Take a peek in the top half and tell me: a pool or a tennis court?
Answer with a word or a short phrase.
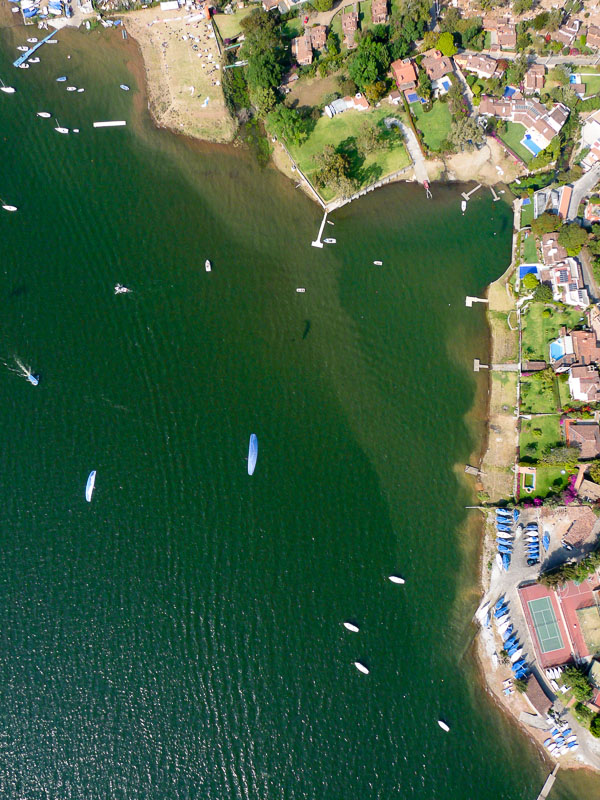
pool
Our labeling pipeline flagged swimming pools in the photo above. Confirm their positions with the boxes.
[569,73,581,84]
[441,77,452,92]
[520,127,550,157]
[516,264,541,284]
[405,89,427,104]
[519,467,536,493]
[549,337,566,362]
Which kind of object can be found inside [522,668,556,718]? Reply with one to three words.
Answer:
shed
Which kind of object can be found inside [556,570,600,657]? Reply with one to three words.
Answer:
basketball court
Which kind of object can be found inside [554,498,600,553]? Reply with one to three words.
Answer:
building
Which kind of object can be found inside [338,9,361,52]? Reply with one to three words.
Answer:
house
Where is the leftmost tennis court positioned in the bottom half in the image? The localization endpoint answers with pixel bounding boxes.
[521,583,574,668]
